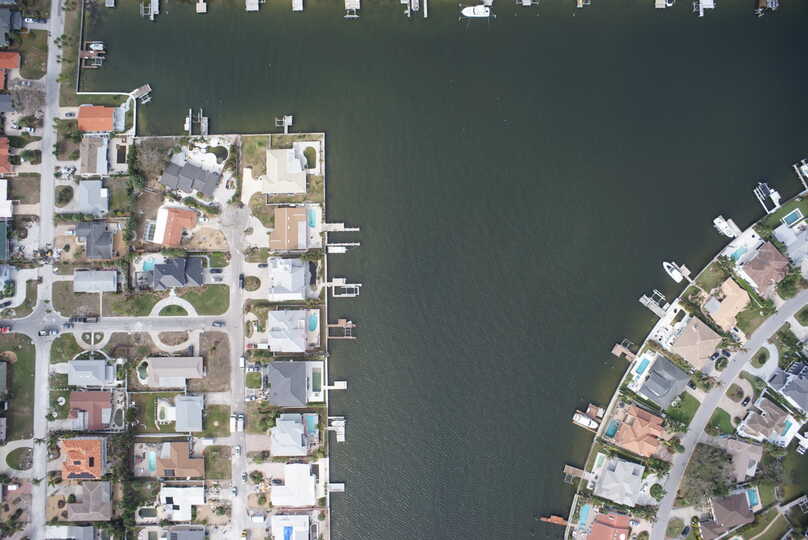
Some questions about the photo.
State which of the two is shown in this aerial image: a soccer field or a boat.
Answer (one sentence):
The one in the frame is a boat.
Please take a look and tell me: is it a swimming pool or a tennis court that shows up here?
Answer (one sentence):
It is a swimming pool that can be seen here.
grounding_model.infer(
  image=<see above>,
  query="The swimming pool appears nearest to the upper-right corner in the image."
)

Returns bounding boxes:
[784,208,803,226]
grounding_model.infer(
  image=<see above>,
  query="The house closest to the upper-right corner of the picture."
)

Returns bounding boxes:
[772,214,808,267]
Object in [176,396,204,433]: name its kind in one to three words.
house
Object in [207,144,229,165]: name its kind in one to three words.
swimming pool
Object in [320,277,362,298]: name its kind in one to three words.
pier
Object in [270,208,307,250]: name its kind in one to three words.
house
